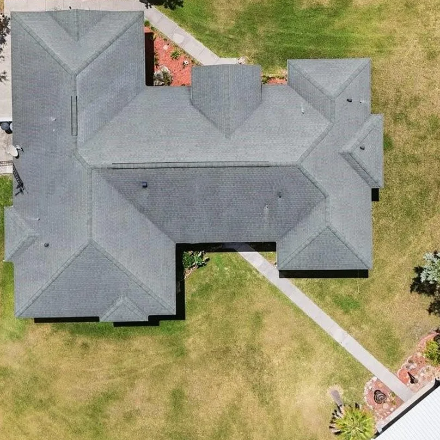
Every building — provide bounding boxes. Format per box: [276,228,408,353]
[4,6,385,323]
[371,378,440,440]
